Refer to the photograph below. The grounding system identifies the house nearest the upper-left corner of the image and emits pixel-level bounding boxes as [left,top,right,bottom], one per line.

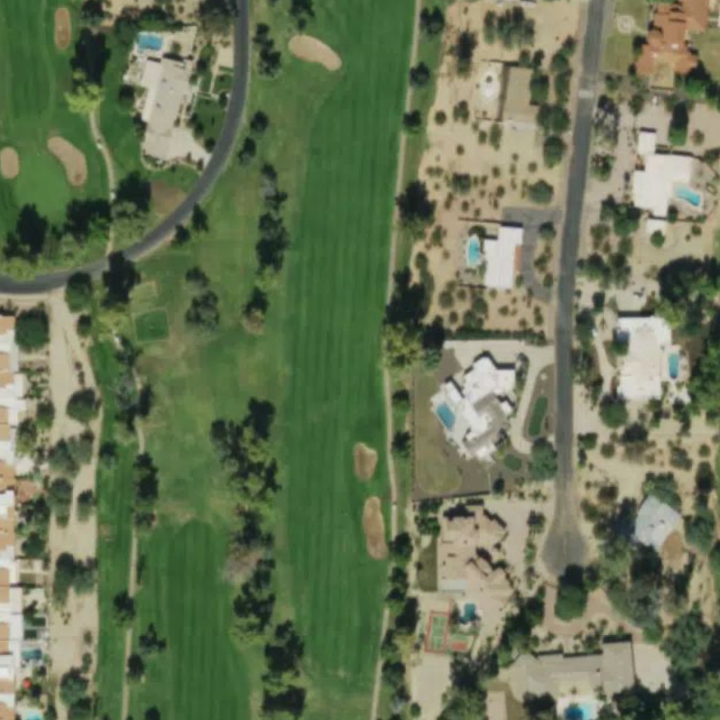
[142,58,190,158]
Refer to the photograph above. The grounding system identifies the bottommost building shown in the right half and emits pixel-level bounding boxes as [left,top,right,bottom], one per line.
[488,691,507,720]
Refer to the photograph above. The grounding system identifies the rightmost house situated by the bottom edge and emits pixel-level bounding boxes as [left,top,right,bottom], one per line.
[509,642,634,701]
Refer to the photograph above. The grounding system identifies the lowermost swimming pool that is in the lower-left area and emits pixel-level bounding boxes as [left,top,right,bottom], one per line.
[27,708,43,720]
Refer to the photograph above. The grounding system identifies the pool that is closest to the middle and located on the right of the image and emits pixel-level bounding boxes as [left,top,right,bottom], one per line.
[435,401,456,431]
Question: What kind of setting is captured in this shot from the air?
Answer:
golf course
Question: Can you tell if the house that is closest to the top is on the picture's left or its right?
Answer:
right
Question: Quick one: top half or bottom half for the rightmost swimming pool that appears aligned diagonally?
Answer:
top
